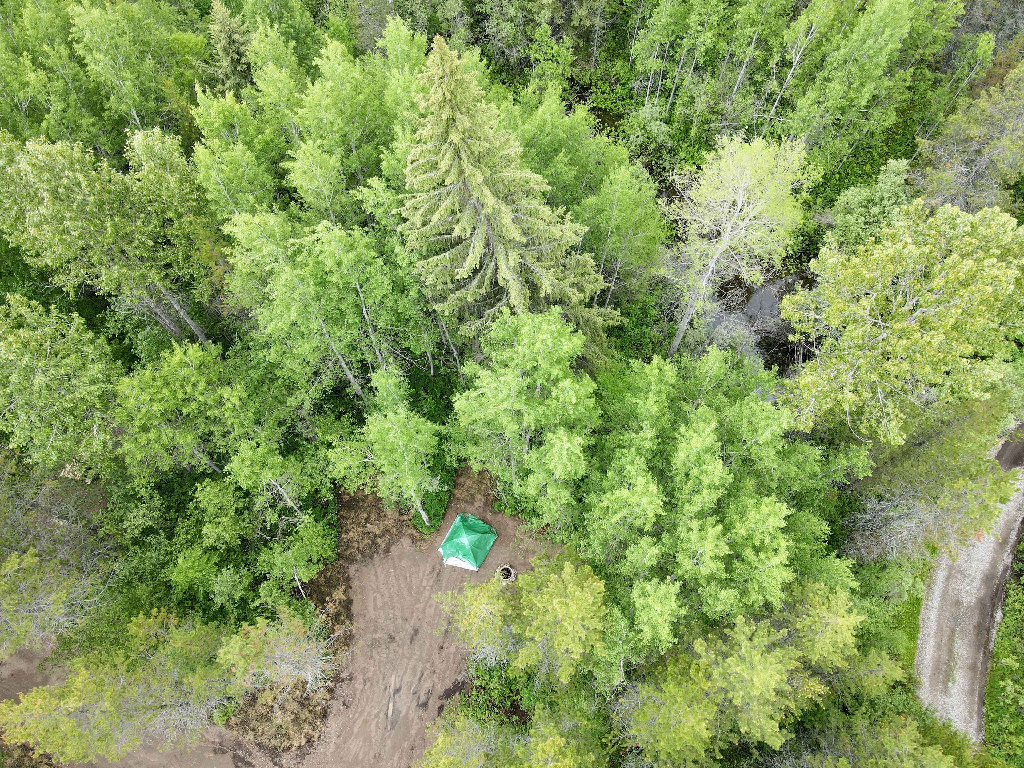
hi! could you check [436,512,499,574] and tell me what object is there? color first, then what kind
green tent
